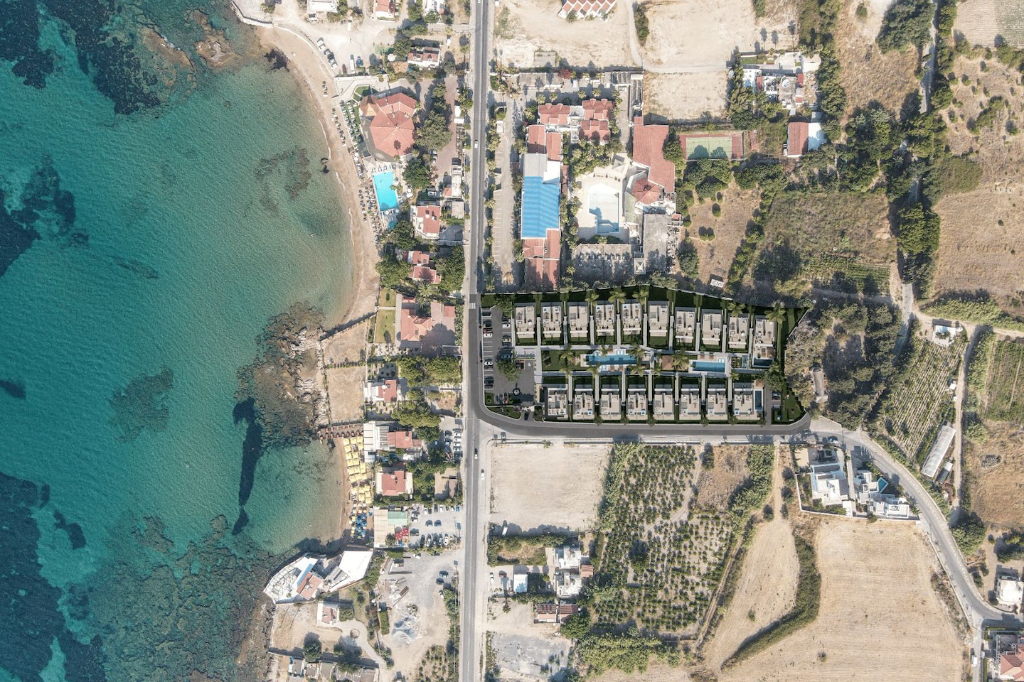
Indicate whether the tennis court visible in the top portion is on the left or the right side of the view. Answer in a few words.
right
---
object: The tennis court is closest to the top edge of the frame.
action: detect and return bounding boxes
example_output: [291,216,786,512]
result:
[686,136,732,159]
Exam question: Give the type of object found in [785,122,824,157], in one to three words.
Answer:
barn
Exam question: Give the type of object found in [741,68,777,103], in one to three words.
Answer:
house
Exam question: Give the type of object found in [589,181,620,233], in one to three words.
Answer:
swimming pool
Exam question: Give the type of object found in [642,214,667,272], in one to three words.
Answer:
building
